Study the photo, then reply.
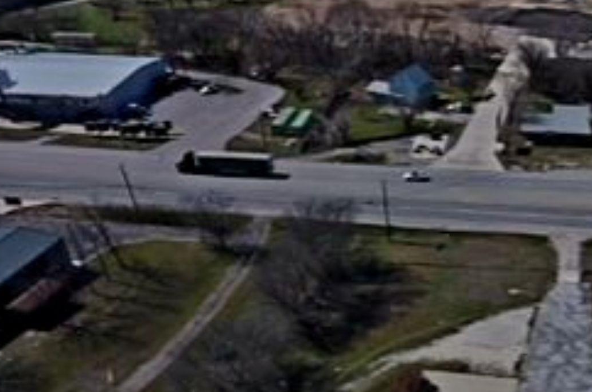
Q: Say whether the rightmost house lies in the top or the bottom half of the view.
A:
top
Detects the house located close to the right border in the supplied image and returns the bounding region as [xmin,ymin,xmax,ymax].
[522,105,592,144]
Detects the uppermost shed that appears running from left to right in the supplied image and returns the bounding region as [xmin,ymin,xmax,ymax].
[46,32,96,47]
